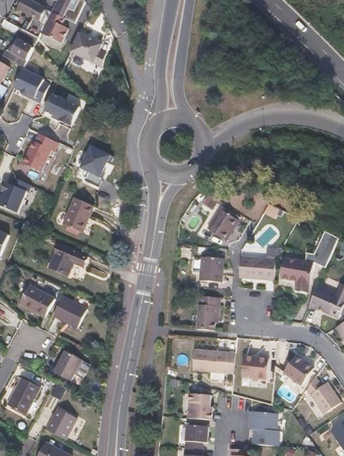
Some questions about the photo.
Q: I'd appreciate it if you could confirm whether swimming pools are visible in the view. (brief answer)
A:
Yes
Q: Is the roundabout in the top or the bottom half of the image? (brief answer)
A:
top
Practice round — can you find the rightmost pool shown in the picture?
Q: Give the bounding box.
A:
[277,386,298,403]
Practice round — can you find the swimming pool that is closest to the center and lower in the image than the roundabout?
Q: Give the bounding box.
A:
[188,212,204,230]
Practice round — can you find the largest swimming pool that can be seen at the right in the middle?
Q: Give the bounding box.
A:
[255,224,280,248]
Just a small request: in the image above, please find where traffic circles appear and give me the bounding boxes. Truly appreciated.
[142,110,212,182]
